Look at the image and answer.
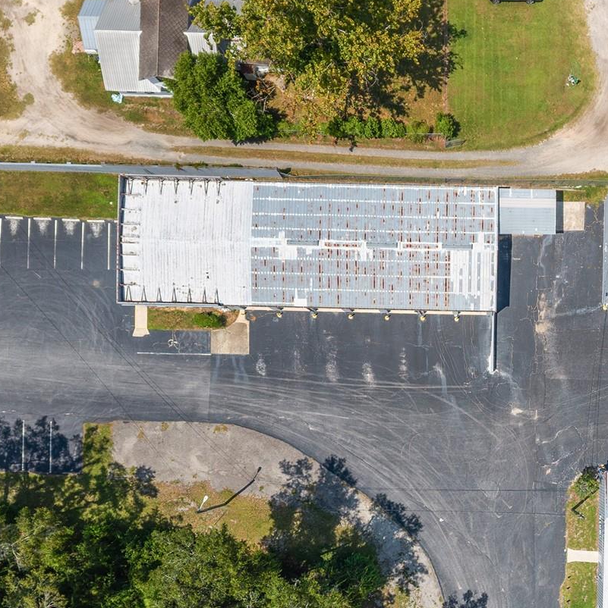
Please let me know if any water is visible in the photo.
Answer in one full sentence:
No, the scene doesn't show any water.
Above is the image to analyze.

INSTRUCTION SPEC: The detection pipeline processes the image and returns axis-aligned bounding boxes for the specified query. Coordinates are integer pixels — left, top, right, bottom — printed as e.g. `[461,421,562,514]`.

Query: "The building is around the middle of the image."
[110,172,499,318]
